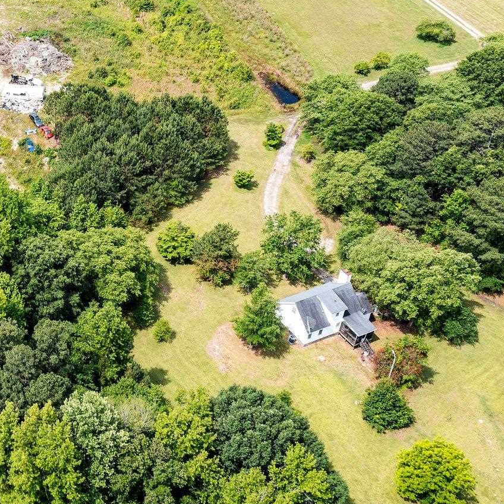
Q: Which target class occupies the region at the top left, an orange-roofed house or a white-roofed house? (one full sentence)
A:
You can see a white-roofed house at the top left.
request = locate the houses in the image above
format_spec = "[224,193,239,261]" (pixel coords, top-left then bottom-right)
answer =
[2,80,46,107]
[270,253,389,349]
